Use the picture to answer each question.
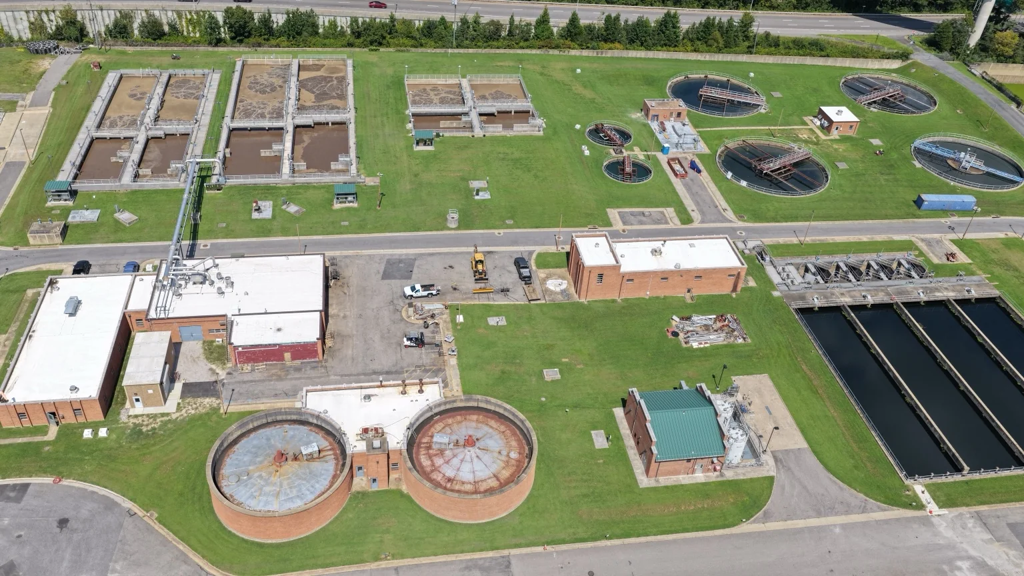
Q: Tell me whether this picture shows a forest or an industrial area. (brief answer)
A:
industrial area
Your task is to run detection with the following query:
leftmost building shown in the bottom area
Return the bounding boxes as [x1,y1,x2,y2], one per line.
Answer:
[0,273,135,427]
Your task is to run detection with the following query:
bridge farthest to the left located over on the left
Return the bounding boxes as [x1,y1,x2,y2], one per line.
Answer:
[91,125,139,141]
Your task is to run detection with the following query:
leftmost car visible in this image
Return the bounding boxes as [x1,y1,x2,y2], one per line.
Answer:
[69,259,90,276]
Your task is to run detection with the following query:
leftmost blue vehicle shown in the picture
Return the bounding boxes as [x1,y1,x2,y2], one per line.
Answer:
[121,259,138,273]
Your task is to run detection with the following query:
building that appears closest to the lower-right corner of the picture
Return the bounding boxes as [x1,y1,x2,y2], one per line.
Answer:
[618,376,732,478]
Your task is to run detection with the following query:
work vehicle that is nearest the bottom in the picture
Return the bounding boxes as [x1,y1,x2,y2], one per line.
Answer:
[406,330,434,347]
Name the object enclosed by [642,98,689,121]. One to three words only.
house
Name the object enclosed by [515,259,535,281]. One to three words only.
vehicle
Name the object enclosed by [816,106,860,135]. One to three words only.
shed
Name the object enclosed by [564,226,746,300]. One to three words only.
building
